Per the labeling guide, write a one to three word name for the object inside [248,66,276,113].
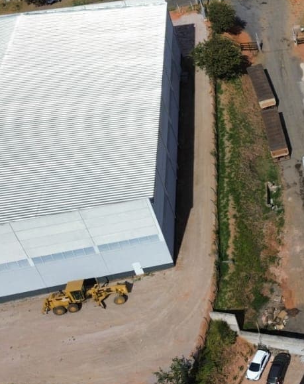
trailer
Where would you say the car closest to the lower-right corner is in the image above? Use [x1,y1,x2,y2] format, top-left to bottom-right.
[265,354,286,382]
